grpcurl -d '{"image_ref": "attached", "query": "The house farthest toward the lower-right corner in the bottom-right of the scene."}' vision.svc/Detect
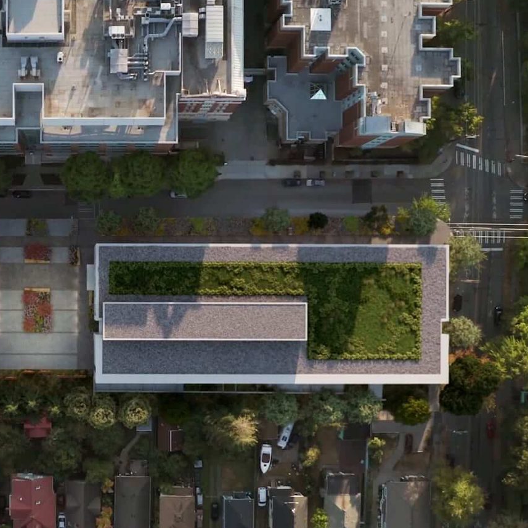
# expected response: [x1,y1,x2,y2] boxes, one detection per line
[375,473,429,528]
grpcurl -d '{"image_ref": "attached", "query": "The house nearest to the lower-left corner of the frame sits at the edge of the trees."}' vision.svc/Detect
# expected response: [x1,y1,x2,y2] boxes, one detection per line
[9,470,56,528]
